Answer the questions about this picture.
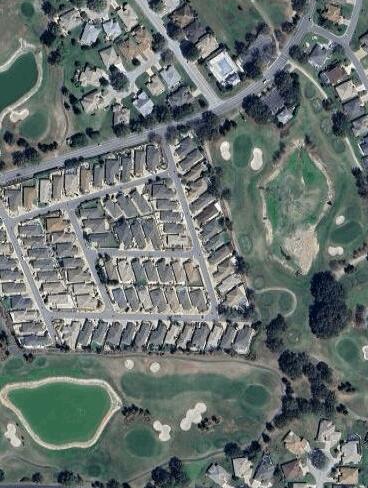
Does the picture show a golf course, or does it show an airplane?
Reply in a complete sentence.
There is a golf course in the scene.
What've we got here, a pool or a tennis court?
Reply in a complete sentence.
The image shows a pool.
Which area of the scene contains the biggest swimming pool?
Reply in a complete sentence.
Look in the top portion of the view to spot the biggest swimming pool.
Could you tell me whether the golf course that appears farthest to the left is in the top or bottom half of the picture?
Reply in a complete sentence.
The top half of the photo is where the golf course that appears farthest to the left is.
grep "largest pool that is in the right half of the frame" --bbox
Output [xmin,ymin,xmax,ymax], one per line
[208,48,237,78]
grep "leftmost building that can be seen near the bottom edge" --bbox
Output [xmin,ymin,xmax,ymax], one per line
[202,461,233,485]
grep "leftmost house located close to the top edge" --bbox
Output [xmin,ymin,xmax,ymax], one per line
[57,8,82,33]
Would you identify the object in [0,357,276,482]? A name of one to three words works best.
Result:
golf course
